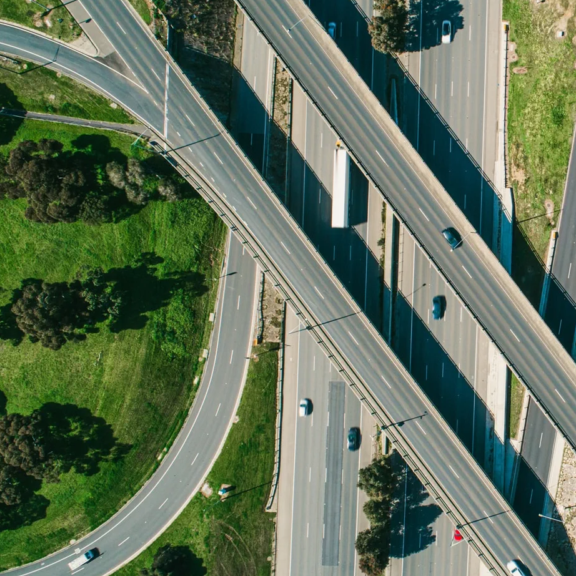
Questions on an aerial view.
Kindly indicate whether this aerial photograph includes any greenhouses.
No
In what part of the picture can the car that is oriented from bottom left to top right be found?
bottom left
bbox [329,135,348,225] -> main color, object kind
white vehicle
